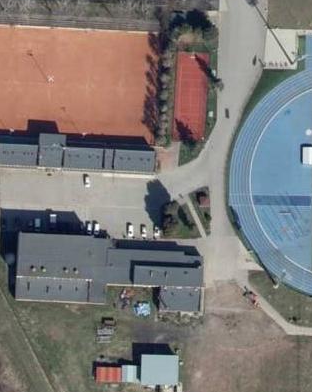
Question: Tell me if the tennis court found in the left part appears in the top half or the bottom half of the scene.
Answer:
top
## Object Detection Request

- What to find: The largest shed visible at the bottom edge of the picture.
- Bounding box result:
[138,354,178,386]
